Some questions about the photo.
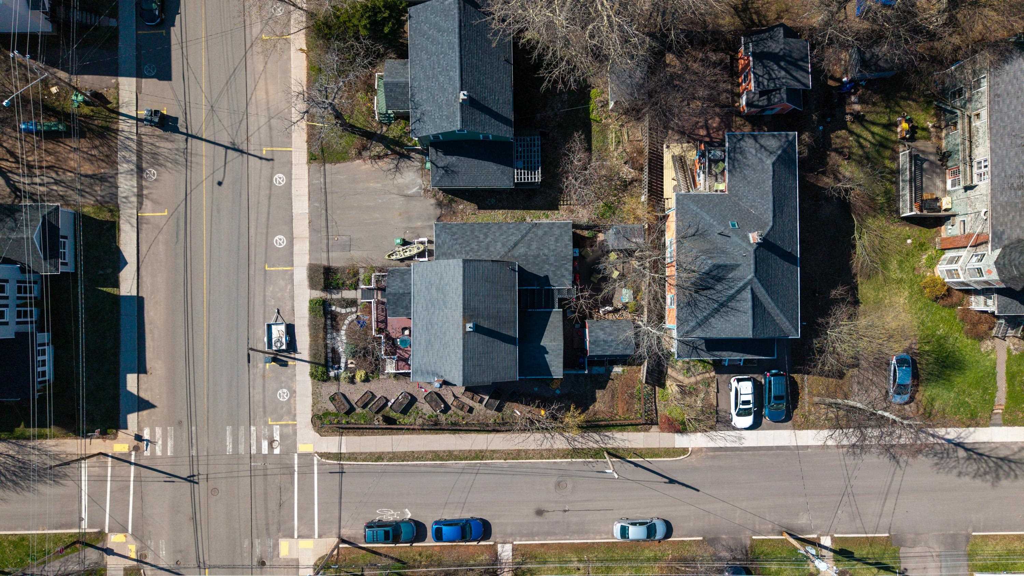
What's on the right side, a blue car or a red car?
blue car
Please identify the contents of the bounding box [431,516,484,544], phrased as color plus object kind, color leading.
blue car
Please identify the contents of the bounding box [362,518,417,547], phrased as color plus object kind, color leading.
blue car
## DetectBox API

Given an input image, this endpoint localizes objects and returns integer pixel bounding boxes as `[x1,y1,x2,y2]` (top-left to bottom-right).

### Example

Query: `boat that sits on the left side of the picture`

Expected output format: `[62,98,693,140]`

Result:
[387,242,427,260]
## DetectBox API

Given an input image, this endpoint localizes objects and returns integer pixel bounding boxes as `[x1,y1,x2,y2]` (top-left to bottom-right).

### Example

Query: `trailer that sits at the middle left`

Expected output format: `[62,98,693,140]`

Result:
[261,308,288,349]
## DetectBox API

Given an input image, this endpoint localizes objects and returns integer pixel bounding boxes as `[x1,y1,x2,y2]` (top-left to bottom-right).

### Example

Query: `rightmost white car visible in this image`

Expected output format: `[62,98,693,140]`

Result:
[730,374,759,430]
